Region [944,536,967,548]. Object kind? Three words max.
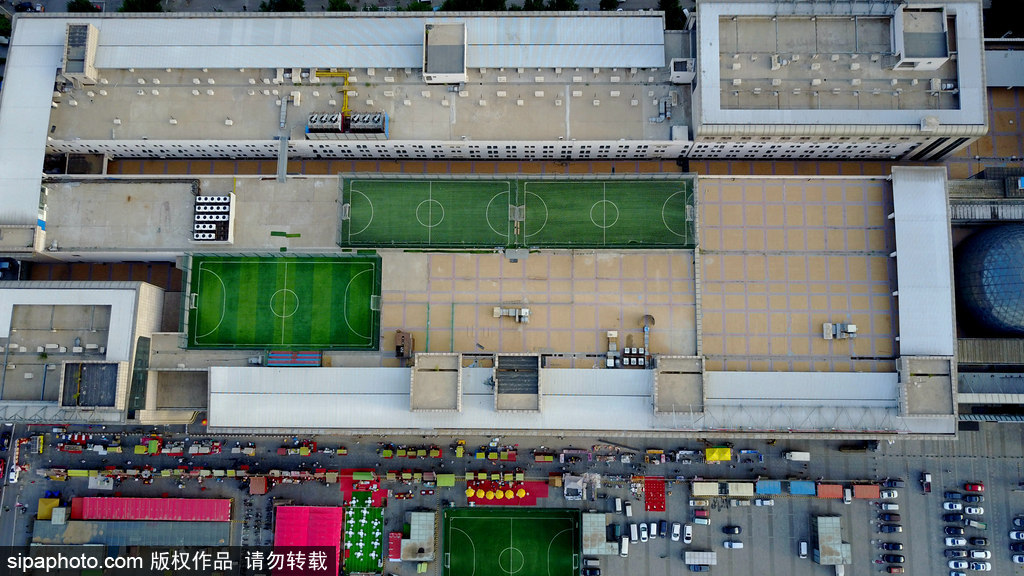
vehicle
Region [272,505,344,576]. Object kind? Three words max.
tent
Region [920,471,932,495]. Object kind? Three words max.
vehicle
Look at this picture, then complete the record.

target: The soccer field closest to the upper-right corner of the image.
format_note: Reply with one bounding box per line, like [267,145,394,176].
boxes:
[515,179,694,244]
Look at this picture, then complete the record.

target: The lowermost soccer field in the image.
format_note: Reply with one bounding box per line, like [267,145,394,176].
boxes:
[444,510,580,576]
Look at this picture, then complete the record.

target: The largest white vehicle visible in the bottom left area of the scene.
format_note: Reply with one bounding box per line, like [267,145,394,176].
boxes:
[7,464,20,484]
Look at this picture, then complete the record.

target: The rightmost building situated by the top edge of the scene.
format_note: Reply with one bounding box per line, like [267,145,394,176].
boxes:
[681,0,989,157]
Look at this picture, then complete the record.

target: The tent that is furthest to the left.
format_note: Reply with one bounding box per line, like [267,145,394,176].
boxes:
[37,497,61,519]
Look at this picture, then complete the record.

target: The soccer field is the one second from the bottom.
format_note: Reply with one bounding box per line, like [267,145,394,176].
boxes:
[187,256,377,348]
